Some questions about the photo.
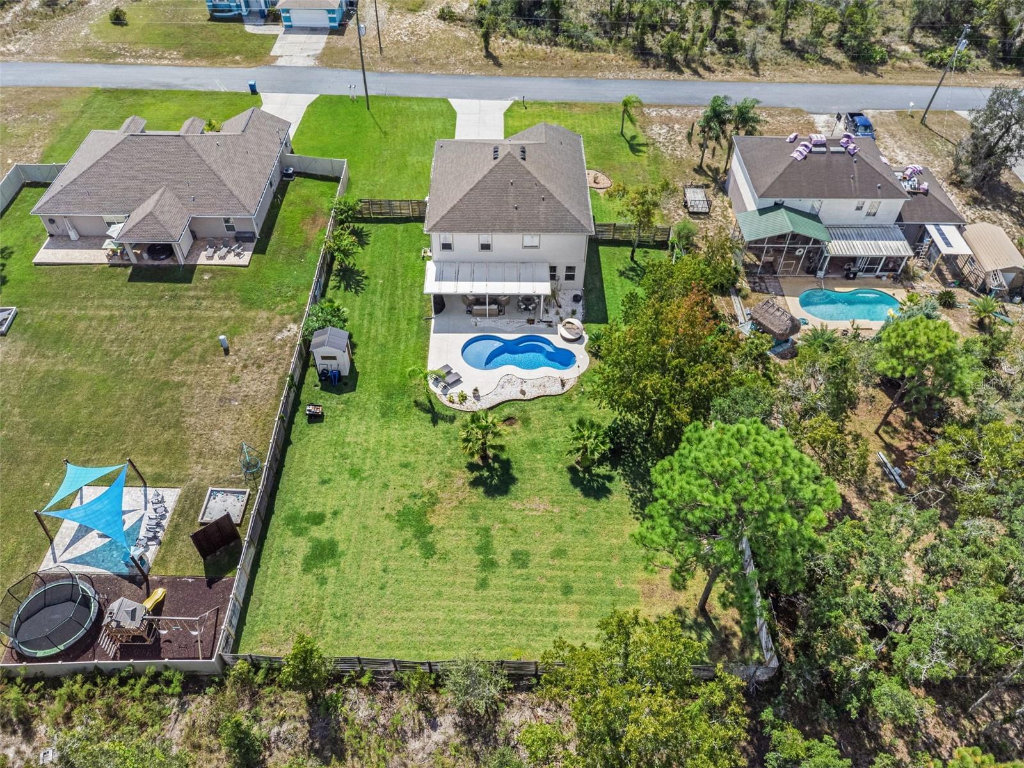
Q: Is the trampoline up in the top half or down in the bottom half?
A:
bottom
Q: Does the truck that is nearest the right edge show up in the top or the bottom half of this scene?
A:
top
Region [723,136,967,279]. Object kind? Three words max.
house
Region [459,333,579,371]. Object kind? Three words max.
swimming pool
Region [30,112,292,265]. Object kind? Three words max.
house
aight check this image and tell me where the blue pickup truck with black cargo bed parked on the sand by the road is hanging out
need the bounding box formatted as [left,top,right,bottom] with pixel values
[850,107,884,142]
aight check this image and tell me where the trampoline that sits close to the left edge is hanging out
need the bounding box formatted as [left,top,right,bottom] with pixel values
[0,559,106,658]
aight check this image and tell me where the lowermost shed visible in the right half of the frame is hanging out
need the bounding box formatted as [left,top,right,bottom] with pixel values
[744,306,804,368]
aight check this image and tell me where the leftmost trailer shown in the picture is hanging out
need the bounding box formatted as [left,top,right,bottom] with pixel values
[682,171,717,207]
